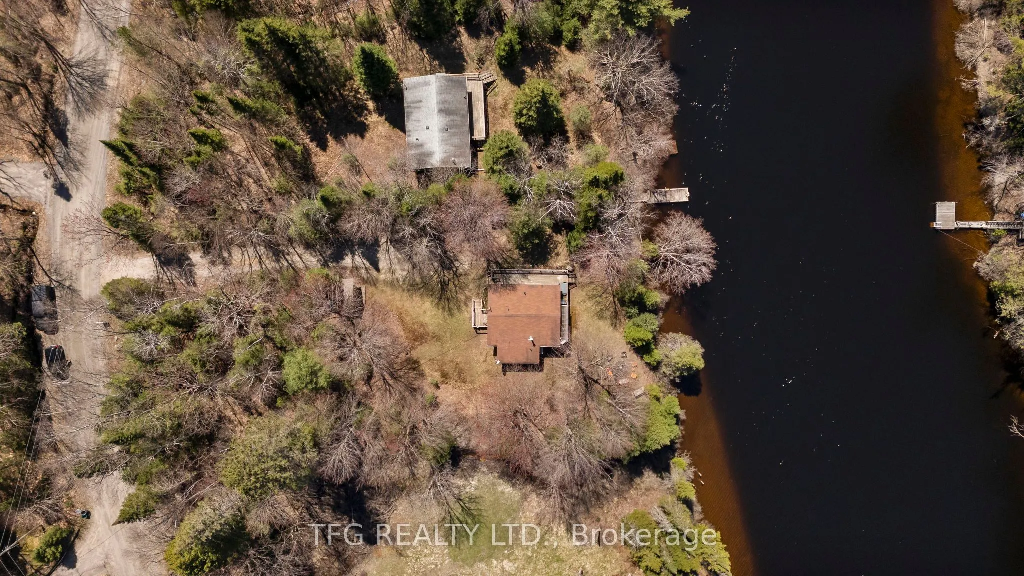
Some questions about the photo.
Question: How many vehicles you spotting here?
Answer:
2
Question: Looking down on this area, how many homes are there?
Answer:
two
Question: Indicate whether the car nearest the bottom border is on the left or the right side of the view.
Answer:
left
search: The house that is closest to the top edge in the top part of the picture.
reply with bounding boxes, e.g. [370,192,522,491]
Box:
[401,74,472,172]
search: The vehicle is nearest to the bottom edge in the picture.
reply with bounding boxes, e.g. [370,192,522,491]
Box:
[45,342,72,384]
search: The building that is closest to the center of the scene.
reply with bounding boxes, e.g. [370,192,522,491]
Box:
[487,284,567,365]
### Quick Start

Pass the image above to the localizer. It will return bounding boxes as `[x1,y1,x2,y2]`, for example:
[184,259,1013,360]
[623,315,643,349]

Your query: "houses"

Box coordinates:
[487,284,567,365]
[401,74,472,172]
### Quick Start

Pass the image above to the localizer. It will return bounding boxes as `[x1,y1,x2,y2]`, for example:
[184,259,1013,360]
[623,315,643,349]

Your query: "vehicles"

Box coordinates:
[31,285,59,337]
[45,342,72,384]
